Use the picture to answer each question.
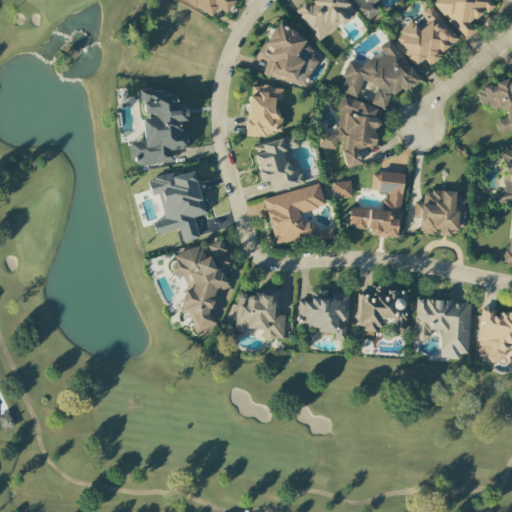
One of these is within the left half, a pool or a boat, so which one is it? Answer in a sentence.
What appears within the left half is a pool.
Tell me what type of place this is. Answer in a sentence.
The area seen from above is a residential area.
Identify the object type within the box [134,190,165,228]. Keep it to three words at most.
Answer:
swimming pool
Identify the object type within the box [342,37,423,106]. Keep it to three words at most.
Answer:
house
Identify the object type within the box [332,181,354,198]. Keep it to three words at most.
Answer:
shed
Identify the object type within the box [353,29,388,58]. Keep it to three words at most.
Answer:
swimming pool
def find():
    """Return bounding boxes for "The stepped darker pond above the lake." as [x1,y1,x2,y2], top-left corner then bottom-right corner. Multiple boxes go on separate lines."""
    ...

[38,4,101,78]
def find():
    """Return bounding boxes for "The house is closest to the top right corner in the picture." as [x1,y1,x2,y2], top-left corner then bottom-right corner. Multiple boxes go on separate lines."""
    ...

[436,0,500,39]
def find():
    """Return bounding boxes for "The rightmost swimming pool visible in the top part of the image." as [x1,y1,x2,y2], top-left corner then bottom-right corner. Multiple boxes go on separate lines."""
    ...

[486,158,507,200]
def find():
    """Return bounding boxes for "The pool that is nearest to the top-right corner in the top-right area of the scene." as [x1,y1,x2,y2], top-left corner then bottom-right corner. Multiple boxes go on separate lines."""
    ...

[400,1,426,23]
